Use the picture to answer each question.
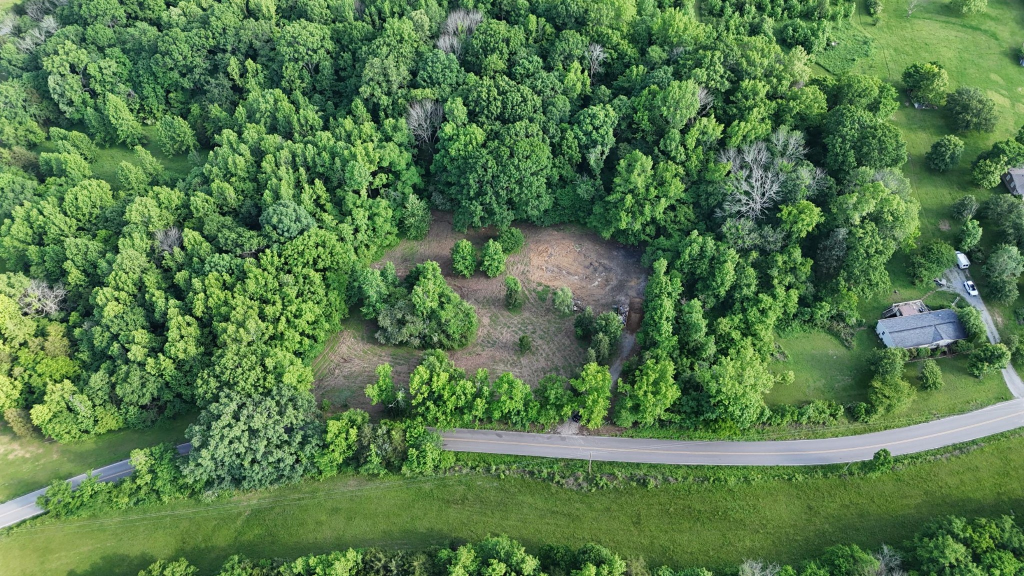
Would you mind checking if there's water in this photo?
No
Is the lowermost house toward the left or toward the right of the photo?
right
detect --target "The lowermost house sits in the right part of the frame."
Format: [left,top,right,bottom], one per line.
[876,308,968,360]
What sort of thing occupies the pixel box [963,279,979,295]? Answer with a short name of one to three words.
car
